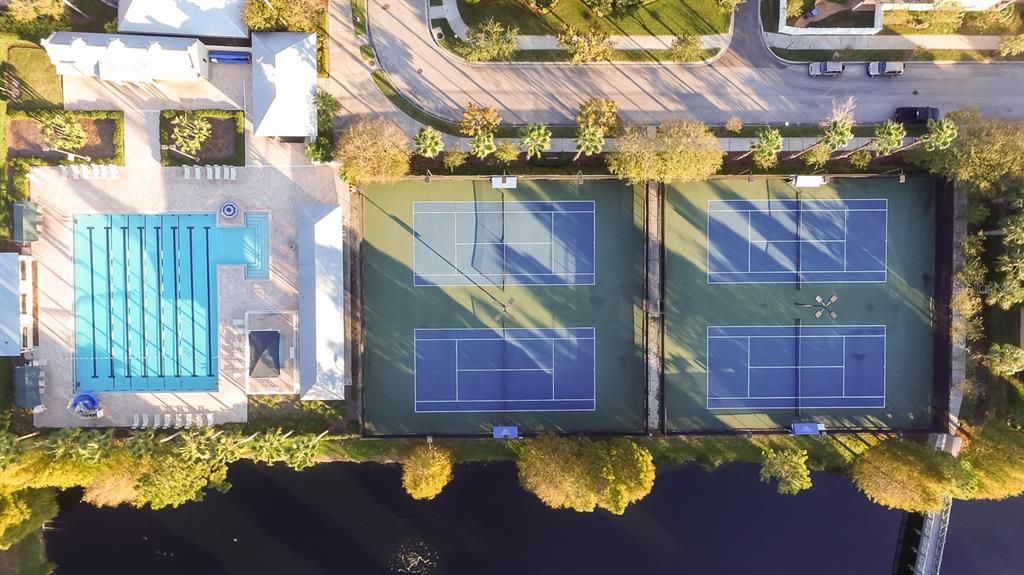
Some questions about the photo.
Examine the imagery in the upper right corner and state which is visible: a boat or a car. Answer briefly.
car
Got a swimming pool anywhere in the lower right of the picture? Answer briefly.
No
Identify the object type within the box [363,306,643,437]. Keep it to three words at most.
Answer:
tennis court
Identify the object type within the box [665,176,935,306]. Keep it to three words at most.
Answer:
tennis court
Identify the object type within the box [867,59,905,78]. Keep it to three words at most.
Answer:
car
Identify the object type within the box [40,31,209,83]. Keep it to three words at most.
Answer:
building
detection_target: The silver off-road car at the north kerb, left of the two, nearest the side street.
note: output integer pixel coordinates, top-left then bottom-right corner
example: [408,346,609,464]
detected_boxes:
[808,59,844,78]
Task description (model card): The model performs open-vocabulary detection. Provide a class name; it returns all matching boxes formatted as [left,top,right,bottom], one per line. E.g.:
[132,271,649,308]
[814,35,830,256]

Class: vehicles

[895,105,942,124]
[808,59,844,78]
[867,59,905,78]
